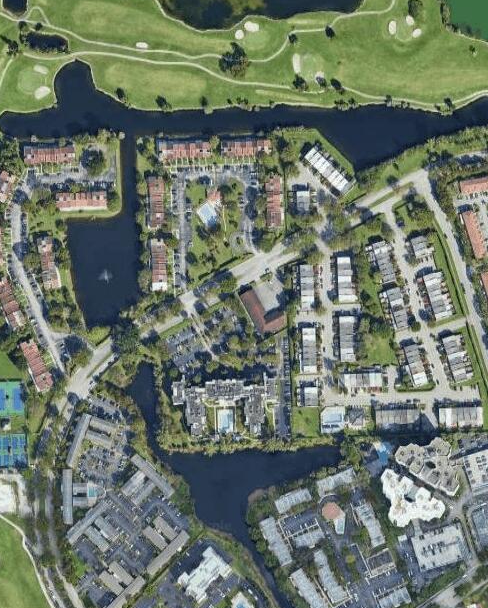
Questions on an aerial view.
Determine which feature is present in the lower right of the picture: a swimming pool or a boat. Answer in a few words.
swimming pool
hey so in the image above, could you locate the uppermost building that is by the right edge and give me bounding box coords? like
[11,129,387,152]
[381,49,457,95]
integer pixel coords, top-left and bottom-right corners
[459,175,488,197]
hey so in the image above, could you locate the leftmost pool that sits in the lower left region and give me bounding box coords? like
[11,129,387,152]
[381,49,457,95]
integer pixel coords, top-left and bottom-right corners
[88,482,106,505]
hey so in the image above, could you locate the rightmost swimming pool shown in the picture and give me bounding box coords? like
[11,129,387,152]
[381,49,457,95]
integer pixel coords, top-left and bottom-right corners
[372,439,394,466]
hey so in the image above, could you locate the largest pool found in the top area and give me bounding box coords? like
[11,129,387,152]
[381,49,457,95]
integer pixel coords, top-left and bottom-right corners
[197,200,222,228]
